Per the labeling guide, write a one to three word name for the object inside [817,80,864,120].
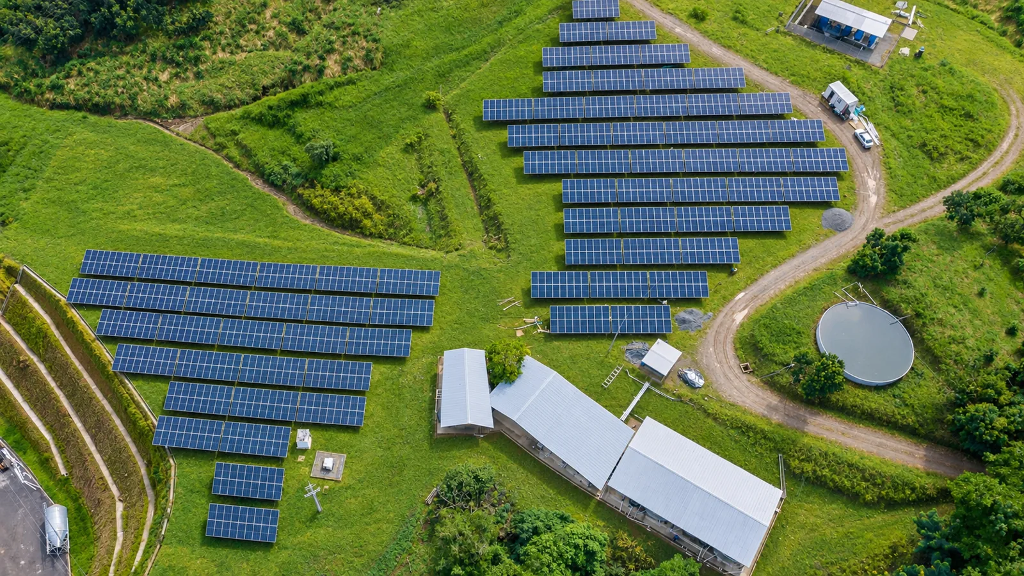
building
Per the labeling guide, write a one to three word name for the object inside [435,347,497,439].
shed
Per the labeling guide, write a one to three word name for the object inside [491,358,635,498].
barn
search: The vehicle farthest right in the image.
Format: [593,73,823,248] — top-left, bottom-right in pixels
[852,129,876,151]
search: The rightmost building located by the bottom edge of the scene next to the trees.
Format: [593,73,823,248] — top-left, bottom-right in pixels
[600,417,788,576]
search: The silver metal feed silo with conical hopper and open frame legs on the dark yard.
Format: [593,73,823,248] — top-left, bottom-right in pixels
[43,503,71,558]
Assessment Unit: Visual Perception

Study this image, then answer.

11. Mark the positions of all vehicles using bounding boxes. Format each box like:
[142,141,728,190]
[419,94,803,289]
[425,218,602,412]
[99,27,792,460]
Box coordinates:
[852,129,876,151]
[0,454,13,477]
